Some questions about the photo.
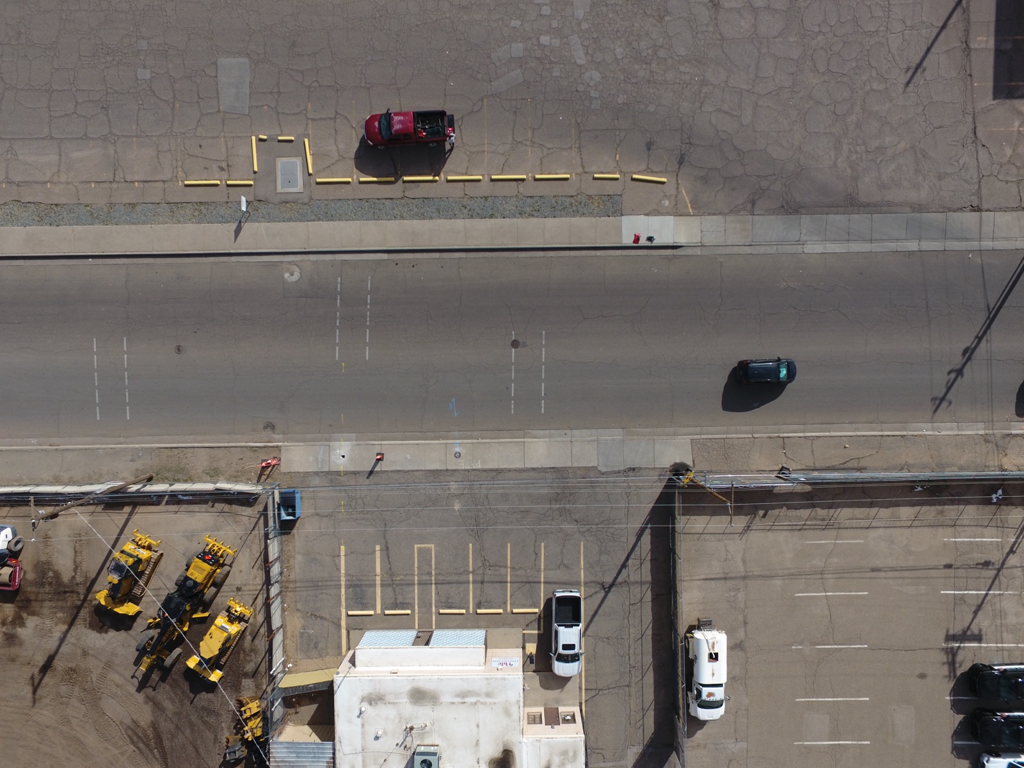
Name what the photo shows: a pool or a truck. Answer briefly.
truck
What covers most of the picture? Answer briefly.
paved ground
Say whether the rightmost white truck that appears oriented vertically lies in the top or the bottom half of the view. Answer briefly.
bottom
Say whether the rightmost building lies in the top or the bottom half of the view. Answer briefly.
bottom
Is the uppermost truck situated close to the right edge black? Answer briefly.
Yes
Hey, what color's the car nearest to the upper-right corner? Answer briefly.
black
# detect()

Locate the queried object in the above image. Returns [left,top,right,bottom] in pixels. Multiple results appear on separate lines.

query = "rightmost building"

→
[333,630,586,768]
